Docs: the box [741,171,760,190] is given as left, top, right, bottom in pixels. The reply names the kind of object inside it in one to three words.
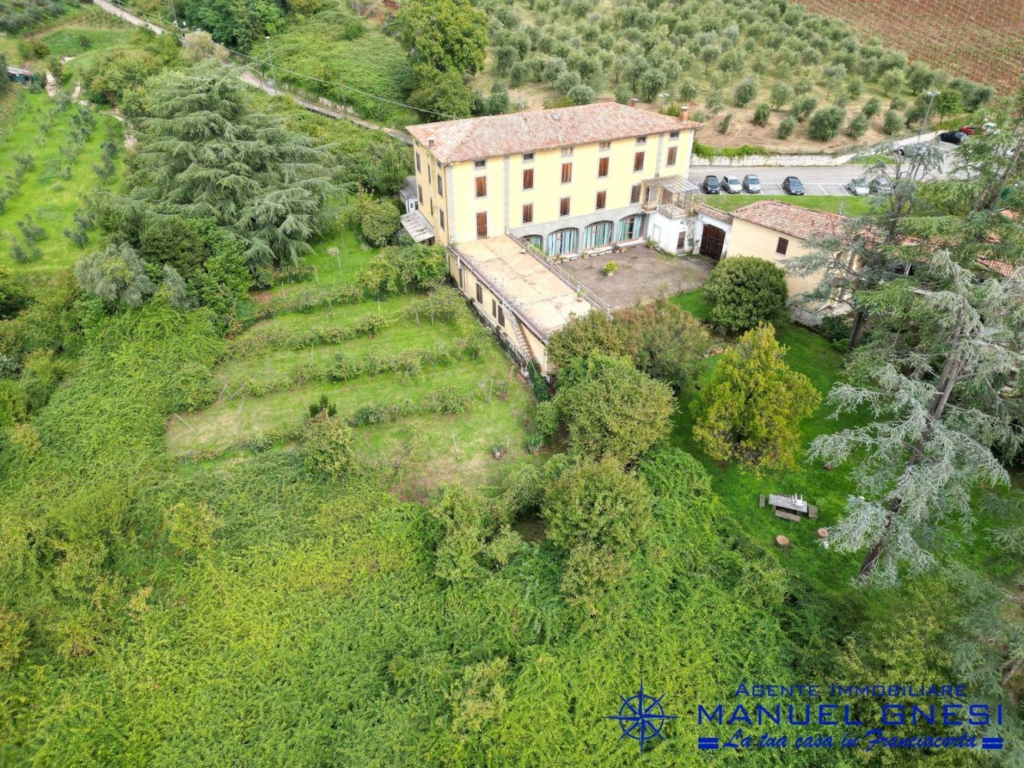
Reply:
car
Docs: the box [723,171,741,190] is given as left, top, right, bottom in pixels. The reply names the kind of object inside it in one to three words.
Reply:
car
